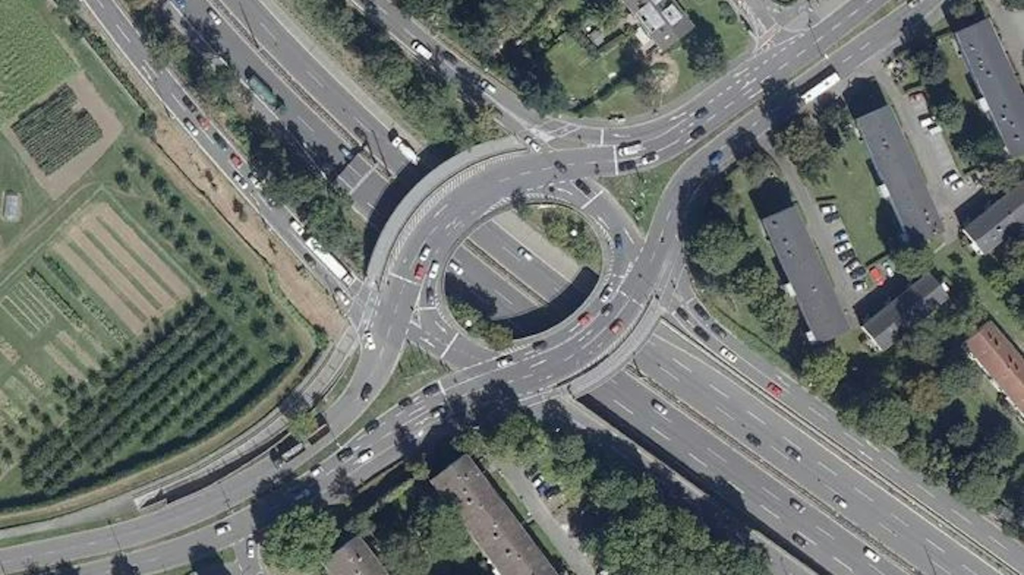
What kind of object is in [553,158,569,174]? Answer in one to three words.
car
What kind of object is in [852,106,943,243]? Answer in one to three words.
building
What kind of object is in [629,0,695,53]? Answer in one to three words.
house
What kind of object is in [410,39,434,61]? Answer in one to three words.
vehicle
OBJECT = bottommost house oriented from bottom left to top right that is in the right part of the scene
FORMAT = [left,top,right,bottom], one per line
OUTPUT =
[859,275,949,351]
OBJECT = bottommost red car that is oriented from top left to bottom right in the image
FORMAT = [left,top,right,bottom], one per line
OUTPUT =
[765,382,783,397]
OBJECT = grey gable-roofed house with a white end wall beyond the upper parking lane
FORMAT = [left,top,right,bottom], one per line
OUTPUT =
[958,185,1024,254]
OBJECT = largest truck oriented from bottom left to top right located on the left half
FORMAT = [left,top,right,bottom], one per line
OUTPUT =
[277,428,330,467]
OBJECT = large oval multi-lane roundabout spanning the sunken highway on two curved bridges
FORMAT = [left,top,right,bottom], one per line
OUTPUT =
[349,128,654,395]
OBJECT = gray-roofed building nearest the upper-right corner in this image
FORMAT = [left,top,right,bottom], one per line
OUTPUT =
[951,18,1024,164]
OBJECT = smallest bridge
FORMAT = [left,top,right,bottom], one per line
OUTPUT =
[554,297,663,400]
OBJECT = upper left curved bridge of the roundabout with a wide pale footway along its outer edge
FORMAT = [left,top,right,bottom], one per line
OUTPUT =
[366,134,529,282]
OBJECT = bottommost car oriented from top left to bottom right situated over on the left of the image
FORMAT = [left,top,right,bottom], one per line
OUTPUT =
[334,288,350,306]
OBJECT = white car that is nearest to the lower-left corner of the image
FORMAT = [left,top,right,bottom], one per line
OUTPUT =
[213,522,233,536]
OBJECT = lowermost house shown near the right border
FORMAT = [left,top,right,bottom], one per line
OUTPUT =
[963,322,1024,414]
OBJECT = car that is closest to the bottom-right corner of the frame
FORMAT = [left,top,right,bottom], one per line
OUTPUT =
[862,546,880,562]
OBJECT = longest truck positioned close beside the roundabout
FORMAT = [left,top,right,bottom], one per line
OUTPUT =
[303,239,356,286]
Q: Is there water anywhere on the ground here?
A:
No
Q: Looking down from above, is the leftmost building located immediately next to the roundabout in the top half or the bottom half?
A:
bottom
